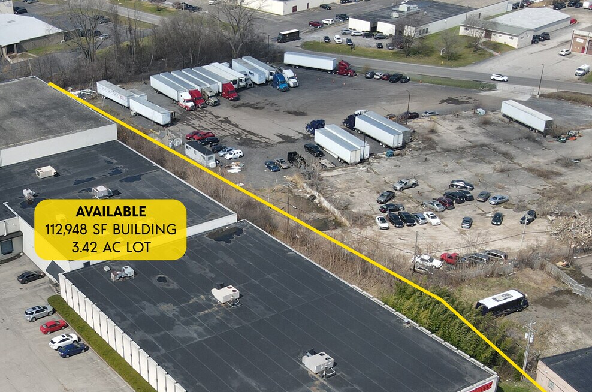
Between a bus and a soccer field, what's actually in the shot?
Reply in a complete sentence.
It is a bus that can be seen here.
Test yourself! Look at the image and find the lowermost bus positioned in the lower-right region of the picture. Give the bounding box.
[472,282,536,318]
